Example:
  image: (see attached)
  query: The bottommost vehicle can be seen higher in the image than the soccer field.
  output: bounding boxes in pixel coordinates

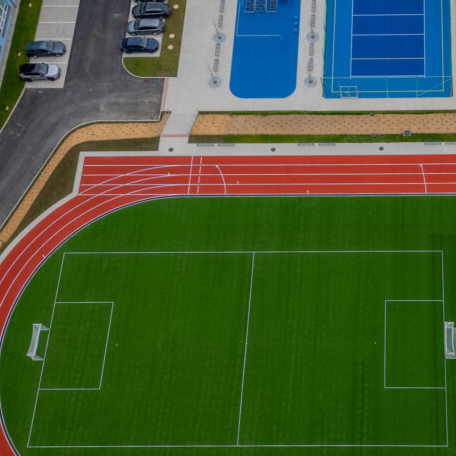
[17,61,62,81]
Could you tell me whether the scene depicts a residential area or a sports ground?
sports ground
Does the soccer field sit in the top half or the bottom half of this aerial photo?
bottom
